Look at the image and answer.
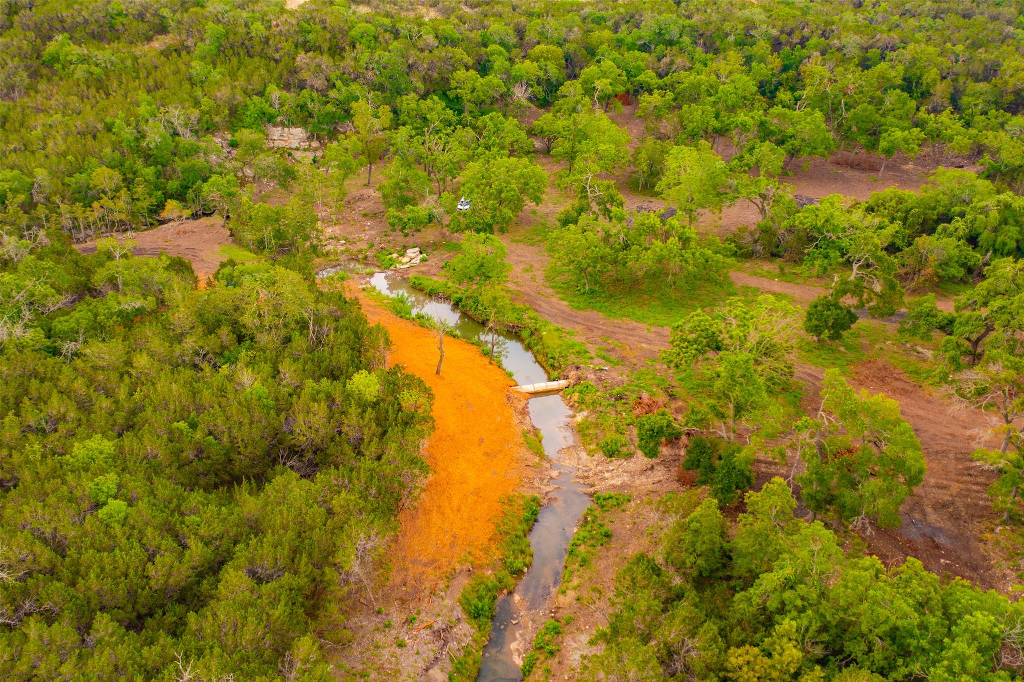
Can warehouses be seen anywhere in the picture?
No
